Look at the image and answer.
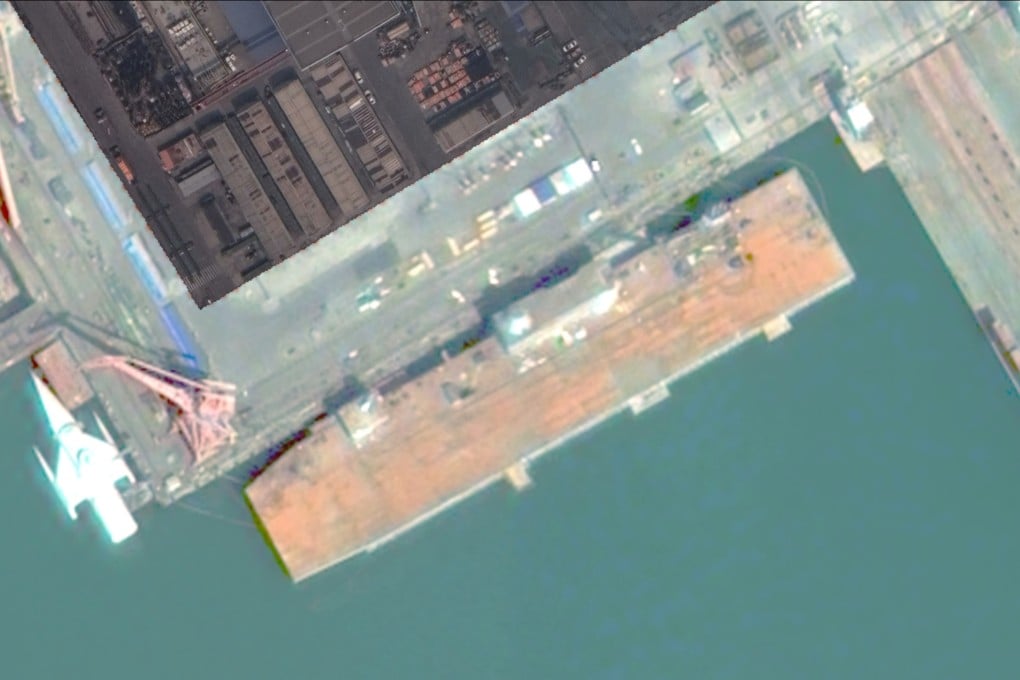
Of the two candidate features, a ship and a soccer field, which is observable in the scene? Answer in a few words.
ship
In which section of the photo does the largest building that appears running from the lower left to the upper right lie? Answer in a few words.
top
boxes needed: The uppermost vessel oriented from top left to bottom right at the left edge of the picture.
[34,340,94,410]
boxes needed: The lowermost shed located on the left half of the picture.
[162,302,201,366]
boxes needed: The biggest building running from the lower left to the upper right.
[432,94,515,158]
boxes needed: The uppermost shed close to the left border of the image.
[37,82,81,151]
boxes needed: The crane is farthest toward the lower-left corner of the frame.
[80,353,242,467]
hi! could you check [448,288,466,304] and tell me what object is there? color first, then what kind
white vehicle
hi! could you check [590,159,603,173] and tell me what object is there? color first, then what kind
white vehicle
